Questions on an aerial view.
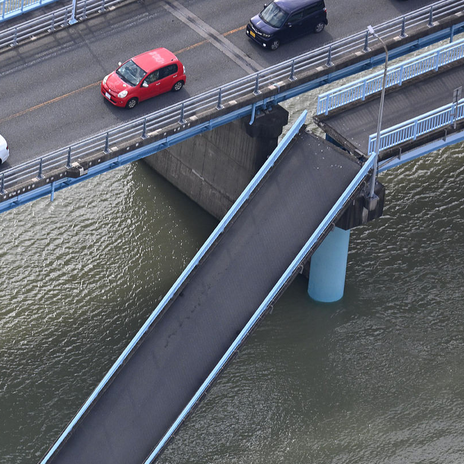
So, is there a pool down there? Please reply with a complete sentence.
No, there's no pool here.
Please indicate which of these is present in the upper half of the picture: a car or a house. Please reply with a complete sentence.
Looking in the upper half of the picture, you will find a car.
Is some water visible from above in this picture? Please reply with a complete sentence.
Yes, some water is visible.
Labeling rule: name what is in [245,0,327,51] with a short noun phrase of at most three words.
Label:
car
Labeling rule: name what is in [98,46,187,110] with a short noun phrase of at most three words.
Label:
car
